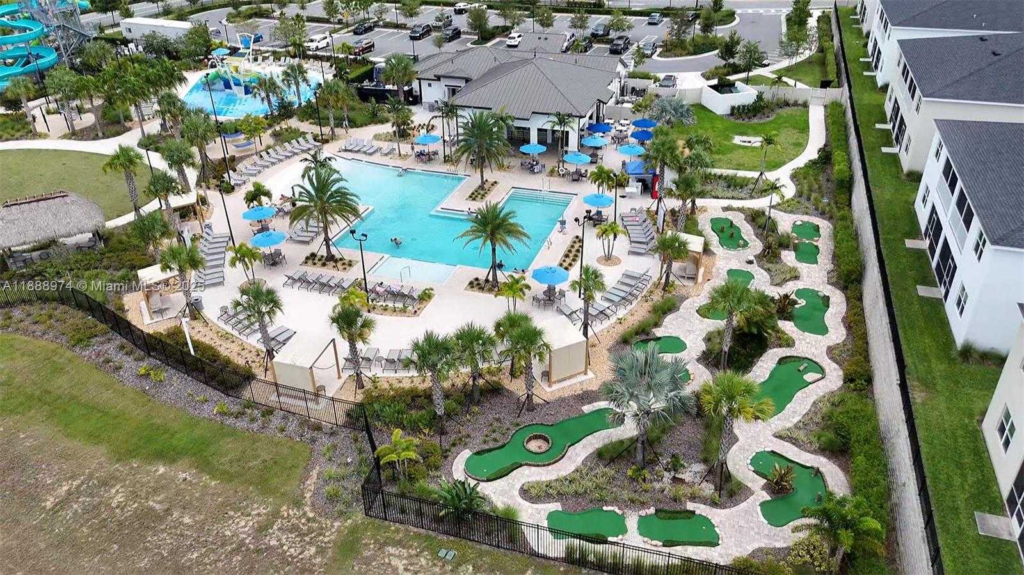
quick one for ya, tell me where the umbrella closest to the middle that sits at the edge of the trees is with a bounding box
[532,266,568,294]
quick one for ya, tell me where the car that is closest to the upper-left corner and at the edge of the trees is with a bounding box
[207,23,226,36]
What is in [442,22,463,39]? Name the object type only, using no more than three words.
car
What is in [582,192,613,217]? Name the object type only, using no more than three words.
umbrella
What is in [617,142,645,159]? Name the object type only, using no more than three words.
umbrella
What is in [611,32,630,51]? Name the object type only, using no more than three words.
car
